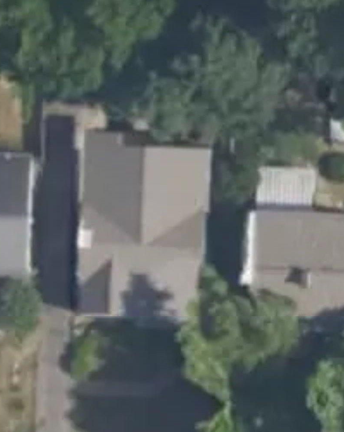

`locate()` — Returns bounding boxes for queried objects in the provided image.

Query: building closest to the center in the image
[75,131,212,317]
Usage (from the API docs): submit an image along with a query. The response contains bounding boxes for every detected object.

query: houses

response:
[0,150,32,278]
[242,209,344,331]
[75,131,212,317]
